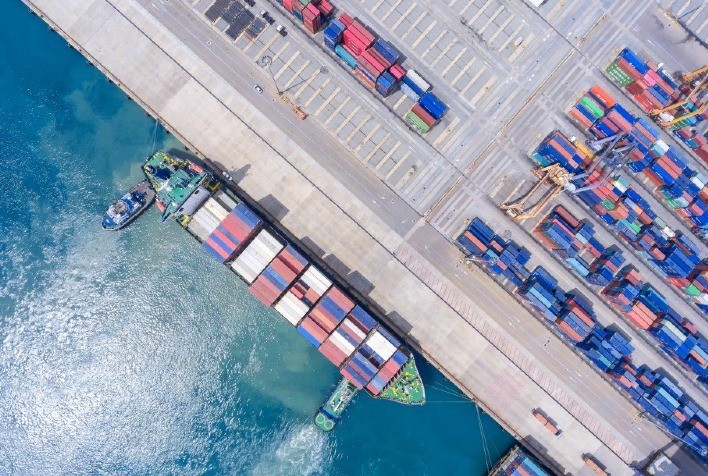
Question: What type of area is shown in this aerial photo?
port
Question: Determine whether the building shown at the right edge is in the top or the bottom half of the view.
bottom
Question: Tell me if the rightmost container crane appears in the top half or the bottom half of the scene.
top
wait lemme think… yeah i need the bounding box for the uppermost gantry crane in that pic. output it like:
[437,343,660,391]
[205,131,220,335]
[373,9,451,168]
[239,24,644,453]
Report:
[652,66,708,131]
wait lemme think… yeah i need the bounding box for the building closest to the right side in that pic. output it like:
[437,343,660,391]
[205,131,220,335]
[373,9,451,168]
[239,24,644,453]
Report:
[637,441,679,476]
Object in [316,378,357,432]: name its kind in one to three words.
boat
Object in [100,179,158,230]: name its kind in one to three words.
boat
